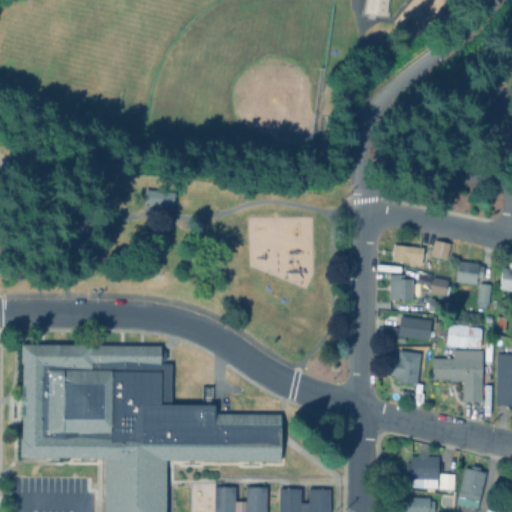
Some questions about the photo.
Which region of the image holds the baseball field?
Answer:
top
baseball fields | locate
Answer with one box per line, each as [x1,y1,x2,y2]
[148,0,334,160]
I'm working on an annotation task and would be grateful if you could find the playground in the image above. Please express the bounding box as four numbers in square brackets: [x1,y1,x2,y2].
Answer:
[249,217,314,288]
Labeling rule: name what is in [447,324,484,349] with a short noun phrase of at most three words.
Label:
building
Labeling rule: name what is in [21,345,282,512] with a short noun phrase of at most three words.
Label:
building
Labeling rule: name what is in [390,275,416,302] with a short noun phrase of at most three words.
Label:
house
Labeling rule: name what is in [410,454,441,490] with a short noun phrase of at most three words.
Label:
house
